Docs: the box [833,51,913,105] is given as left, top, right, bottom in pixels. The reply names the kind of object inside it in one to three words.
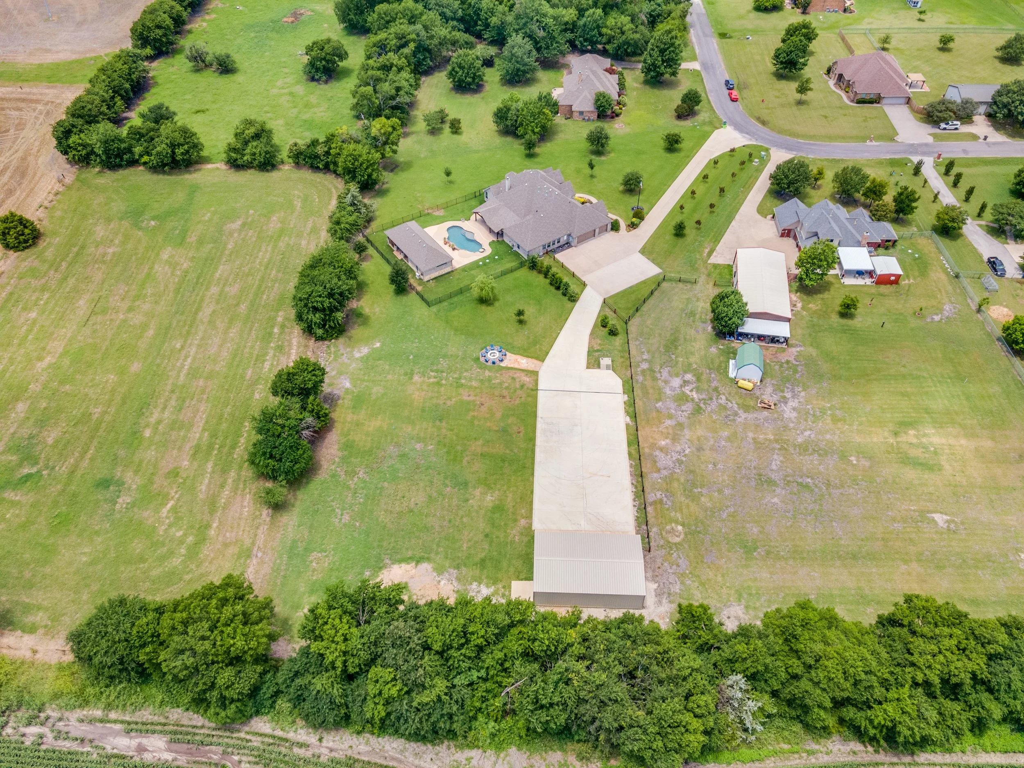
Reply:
house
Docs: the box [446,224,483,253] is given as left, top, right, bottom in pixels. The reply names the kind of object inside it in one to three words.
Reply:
swimming pool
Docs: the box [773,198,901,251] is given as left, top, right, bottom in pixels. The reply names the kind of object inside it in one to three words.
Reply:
house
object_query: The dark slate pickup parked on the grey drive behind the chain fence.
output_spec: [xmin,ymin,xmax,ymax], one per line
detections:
[984,253,1012,279]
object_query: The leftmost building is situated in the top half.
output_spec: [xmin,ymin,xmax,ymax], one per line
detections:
[384,221,454,282]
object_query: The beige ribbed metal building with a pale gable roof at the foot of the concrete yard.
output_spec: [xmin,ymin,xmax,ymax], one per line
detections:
[534,526,648,610]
